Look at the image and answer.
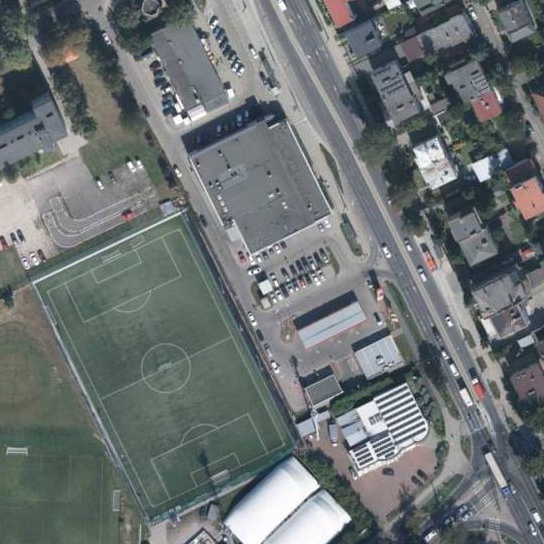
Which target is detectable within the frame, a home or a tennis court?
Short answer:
home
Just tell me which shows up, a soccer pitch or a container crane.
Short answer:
soccer pitch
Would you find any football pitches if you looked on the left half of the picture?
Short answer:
Yes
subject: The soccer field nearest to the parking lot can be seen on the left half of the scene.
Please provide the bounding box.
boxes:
[34,213,297,522]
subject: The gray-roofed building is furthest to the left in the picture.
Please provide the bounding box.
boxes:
[0,116,44,172]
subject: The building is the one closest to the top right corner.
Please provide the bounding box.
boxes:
[497,0,535,43]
